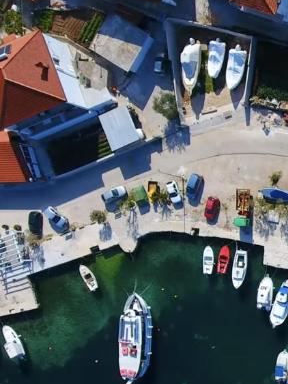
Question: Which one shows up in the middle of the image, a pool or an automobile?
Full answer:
You can see an automobile in the middle of the image.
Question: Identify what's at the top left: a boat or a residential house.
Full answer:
Looking at the top left, you will find a residential house.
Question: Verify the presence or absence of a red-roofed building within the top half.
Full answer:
Yes, a red-roofed building appears within the top half.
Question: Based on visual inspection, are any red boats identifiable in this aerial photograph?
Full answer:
Yes, there is a red boat in the image.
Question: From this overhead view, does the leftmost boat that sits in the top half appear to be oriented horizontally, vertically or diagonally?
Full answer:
Seen from above, the leftmost boat that sits in the top half lies vertically.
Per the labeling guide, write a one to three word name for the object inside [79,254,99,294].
boat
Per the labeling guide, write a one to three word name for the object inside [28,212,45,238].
car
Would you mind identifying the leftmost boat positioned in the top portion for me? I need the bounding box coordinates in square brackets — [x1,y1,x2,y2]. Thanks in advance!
[181,37,202,96]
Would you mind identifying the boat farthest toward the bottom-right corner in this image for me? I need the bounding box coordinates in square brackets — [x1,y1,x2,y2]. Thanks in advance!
[271,349,288,384]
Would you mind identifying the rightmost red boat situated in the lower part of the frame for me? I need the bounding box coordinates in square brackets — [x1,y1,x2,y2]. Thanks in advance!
[215,243,234,277]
